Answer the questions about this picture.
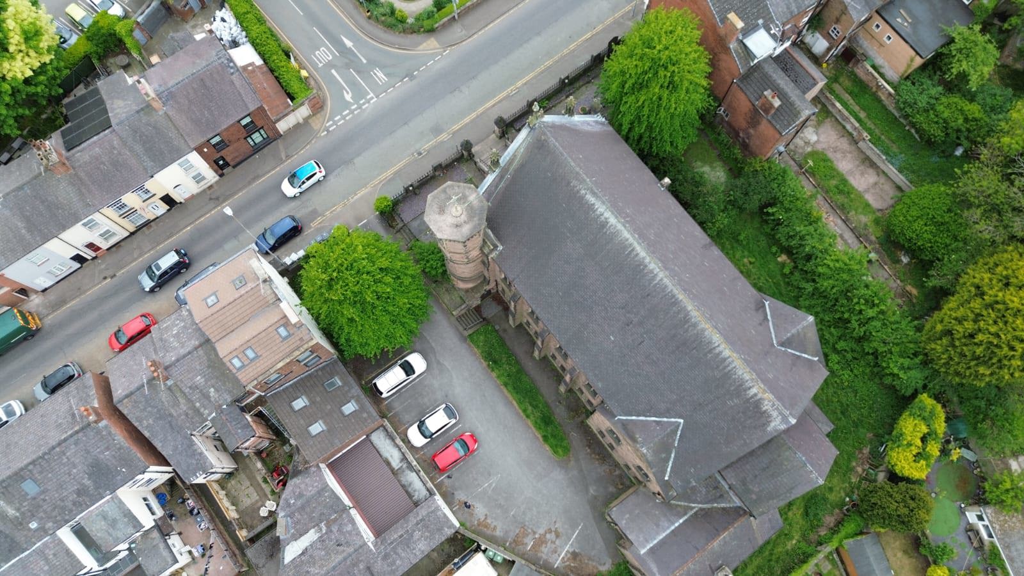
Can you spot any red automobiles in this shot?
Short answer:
Yes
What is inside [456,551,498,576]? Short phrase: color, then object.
white trailer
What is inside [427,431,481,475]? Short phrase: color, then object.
red car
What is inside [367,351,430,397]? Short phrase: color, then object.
white car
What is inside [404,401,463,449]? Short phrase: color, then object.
white car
